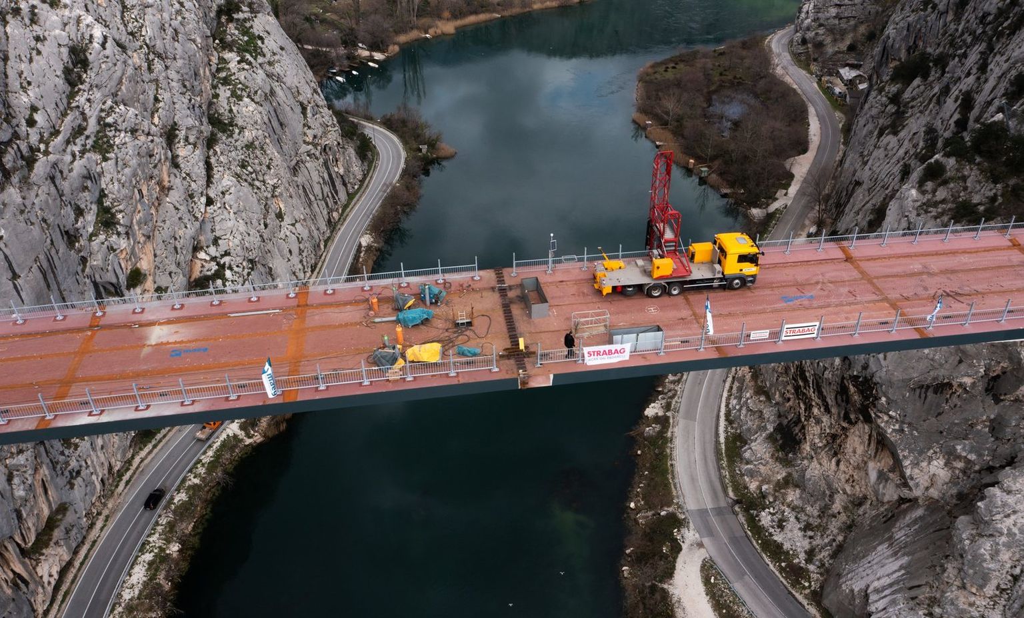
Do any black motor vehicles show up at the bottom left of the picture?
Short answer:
Yes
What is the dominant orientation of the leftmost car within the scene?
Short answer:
diagonally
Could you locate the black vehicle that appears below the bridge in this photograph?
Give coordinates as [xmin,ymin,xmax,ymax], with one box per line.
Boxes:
[142,487,167,509]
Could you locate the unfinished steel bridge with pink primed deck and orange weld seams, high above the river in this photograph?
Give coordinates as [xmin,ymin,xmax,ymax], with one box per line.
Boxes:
[0,229,1024,450]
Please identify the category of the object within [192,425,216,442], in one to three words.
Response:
vehicle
